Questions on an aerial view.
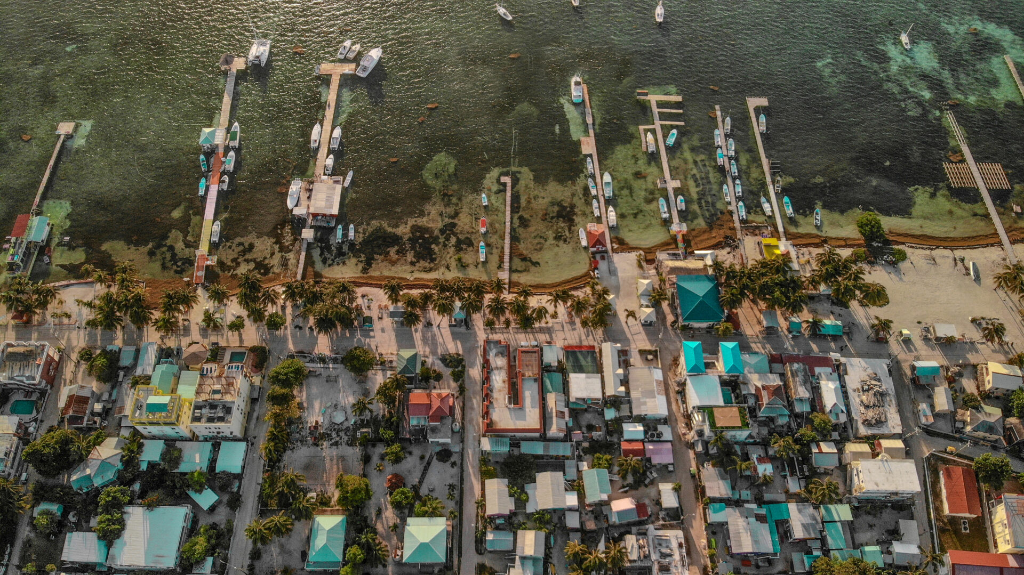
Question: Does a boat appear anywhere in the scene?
Yes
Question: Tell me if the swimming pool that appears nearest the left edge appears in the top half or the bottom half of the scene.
bottom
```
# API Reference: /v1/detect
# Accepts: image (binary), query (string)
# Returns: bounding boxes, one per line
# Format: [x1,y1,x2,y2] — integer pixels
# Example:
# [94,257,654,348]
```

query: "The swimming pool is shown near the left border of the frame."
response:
[4,393,40,421]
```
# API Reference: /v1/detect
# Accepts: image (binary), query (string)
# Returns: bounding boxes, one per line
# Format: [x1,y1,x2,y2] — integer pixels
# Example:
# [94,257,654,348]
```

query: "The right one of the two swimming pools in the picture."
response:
[223,350,249,363]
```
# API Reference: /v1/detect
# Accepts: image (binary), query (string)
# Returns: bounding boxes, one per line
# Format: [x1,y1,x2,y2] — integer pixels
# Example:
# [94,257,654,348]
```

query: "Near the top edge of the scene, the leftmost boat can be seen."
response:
[246,12,272,67]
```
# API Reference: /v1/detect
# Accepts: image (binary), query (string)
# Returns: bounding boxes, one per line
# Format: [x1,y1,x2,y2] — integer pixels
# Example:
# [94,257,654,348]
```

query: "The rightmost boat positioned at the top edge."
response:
[901,20,916,51]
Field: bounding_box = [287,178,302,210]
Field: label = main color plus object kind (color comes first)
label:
white boat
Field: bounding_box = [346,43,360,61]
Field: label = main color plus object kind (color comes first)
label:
white boat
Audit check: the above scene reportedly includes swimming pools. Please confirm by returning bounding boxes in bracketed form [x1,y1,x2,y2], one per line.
[4,393,40,421]
[223,350,249,363]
